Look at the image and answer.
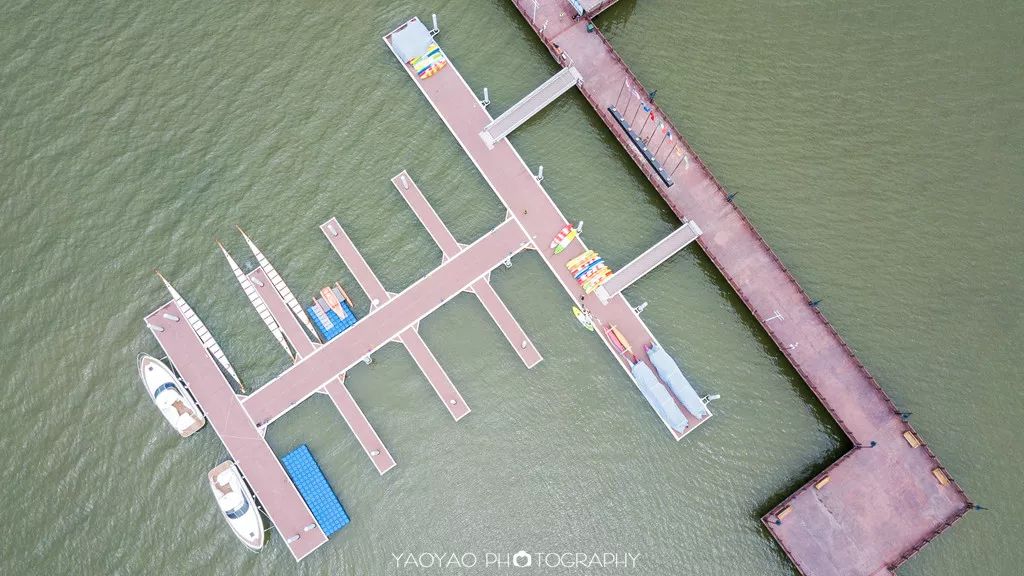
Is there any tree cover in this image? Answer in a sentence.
No, there is no tree cover in the image.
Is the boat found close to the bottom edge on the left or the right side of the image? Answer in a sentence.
The boat found close to the bottom edge appears in the left half of the scene.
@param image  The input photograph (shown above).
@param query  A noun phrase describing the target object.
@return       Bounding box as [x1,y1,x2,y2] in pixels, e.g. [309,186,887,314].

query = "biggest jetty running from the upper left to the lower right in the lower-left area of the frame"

[145,301,329,561]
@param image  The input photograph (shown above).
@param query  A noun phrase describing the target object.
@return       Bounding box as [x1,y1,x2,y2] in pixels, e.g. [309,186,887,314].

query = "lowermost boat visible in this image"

[209,459,263,554]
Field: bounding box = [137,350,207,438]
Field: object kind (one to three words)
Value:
boat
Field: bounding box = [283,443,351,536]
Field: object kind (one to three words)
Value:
pier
